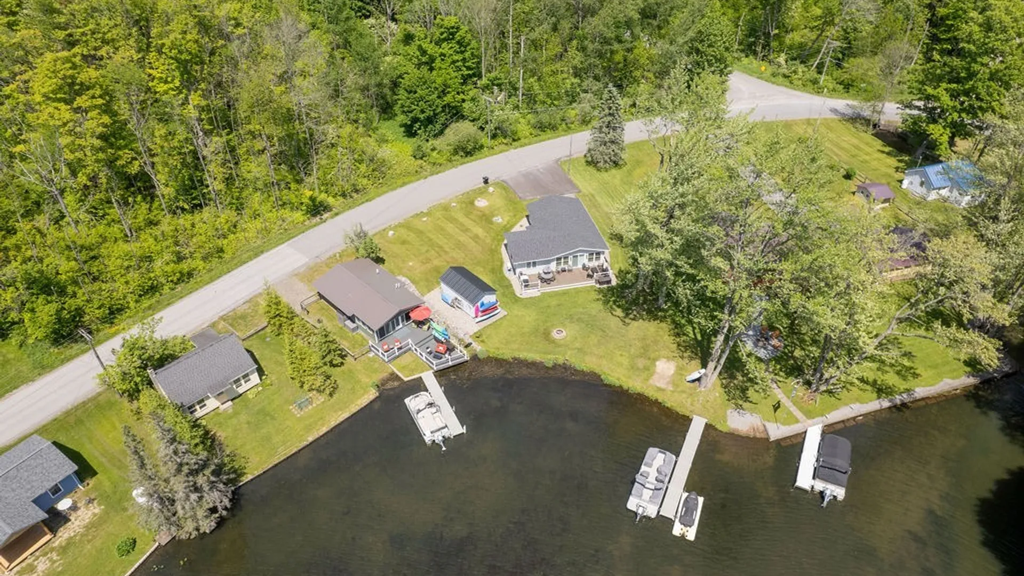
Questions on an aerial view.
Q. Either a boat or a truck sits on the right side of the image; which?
boat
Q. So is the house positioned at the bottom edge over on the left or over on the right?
left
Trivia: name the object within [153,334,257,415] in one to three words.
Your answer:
house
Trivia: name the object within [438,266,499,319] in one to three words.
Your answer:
shed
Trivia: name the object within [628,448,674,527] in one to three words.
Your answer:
boat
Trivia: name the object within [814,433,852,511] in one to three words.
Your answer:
boat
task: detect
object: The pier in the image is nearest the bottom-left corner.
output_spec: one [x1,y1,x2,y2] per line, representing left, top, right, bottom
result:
[421,370,466,438]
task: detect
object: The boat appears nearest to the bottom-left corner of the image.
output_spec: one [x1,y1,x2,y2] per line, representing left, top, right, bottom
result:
[408,391,451,454]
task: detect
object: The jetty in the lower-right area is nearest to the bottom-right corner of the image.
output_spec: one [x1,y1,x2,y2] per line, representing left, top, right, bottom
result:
[794,422,822,492]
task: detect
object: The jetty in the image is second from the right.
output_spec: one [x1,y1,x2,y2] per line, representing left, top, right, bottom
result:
[659,415,707,521]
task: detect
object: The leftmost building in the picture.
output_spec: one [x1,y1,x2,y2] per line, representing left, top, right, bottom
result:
[0,433,90,576]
